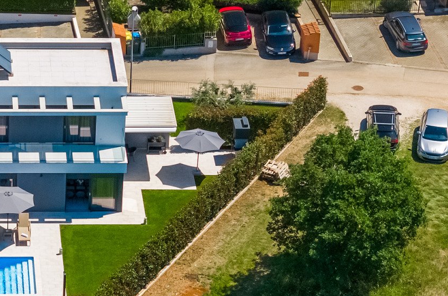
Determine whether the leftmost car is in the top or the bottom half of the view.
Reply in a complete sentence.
The leftmost car sits in the top half of the picture.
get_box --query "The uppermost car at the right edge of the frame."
[389,14,434,51]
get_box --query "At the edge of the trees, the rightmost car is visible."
[418,111,448,161]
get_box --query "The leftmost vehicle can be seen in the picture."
[220,9,254,44]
